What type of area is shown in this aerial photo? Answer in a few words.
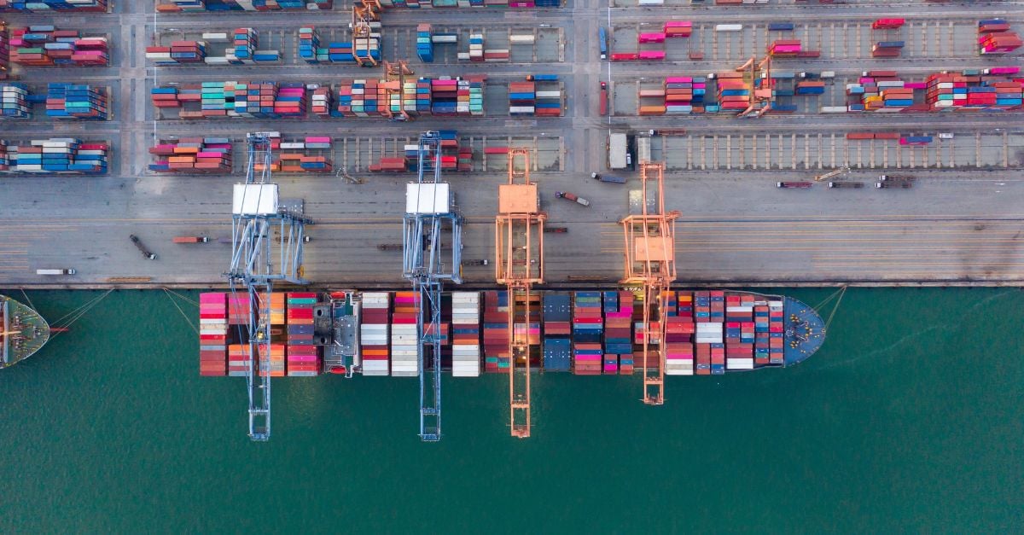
port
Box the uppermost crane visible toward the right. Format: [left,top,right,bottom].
[737,57,770,118]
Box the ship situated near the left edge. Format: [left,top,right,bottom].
[0,295,67,367]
